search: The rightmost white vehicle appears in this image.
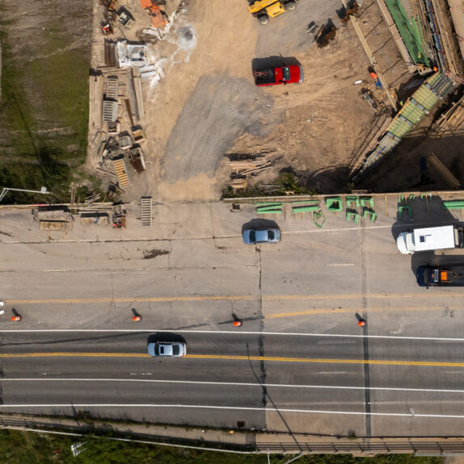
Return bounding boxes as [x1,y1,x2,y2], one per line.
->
[397,227,464,253]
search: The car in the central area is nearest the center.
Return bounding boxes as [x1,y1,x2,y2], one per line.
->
[243,225,283,243]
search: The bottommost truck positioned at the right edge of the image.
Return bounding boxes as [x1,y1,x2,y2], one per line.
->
[418,264,464,288]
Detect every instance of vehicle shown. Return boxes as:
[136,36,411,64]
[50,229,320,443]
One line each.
[243,225,283,243]
[418,264,464,288]
[253,63,305,86]
[397,227,464,253]
[149,340,189,359]
[250,0,299,21]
